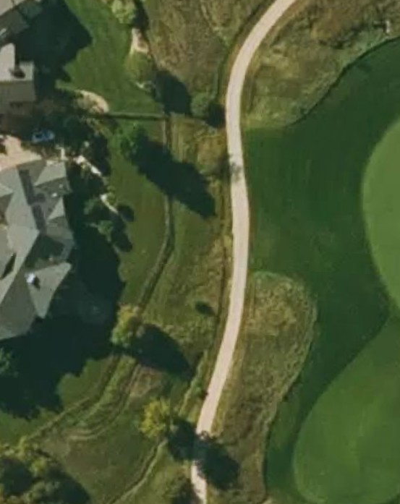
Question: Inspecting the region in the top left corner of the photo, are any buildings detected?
Yes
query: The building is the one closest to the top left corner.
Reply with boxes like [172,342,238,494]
[0,0,45,44]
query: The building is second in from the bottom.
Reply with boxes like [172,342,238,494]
[0,44,35,116]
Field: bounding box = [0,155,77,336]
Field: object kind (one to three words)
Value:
house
